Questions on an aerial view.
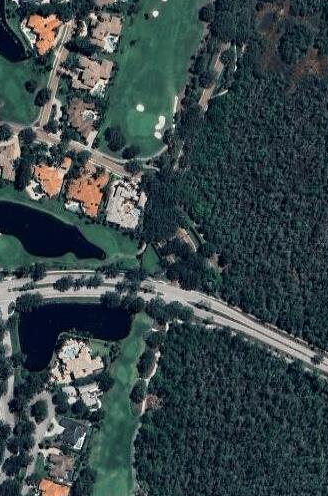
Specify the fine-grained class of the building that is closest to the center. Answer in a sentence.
From above, the building that is closest to the center can be identified as a house.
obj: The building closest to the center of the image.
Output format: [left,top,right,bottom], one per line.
[102,179,152,233]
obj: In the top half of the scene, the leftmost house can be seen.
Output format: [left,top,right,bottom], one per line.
[0,136,25,183]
